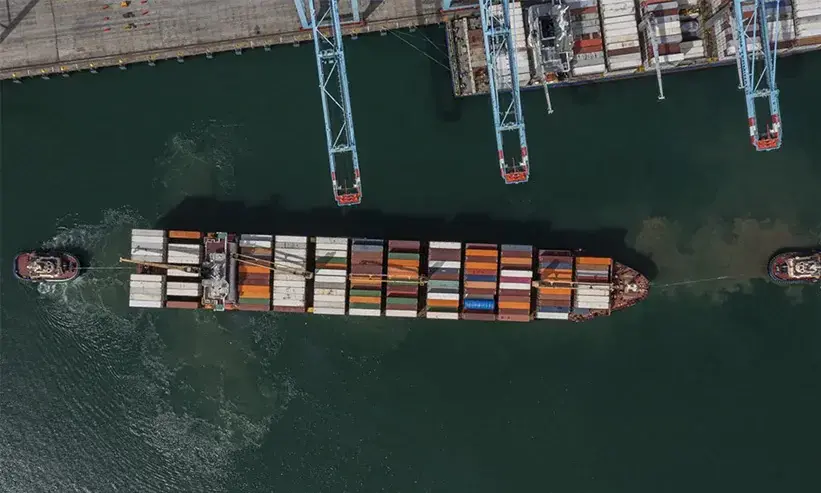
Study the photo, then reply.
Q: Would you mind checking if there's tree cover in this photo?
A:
No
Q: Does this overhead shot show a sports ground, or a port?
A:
port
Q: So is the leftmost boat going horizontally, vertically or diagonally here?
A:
horizontally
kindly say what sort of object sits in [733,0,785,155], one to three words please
container crane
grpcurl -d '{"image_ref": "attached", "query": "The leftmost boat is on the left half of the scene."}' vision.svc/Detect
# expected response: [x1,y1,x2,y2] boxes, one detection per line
[11,251,83,282]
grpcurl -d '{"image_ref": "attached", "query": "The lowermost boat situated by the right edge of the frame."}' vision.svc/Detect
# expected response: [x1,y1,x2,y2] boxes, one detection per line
[766,251,821,283]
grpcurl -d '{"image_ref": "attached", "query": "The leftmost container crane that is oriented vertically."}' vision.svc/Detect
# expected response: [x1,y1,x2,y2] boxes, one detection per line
[292,0,368,208]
